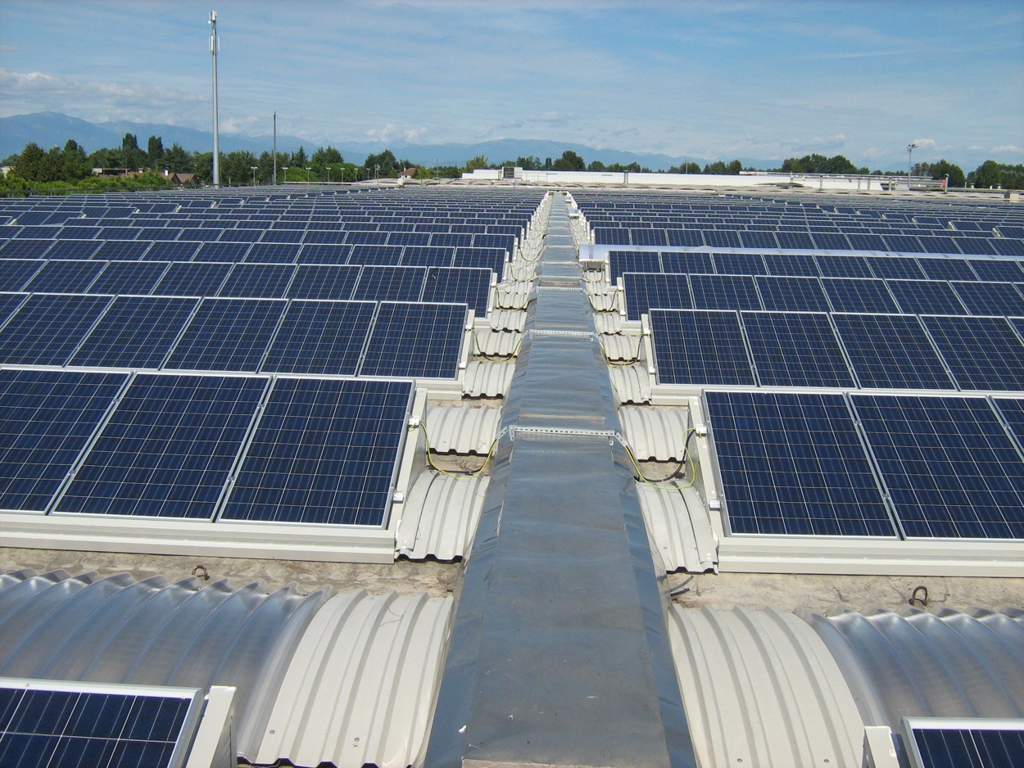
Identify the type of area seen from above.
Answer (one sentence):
The picture captures a solar farm.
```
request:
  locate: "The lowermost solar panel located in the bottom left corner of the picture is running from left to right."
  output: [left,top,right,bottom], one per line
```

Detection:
[0,680,207,768]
